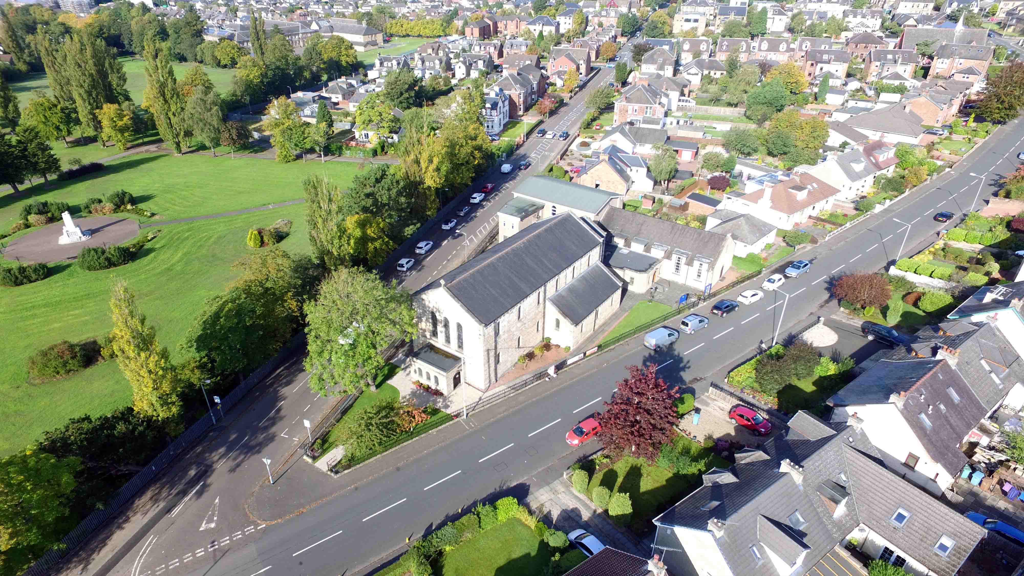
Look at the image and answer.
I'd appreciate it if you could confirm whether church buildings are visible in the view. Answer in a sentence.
Yes, the picture does show a church building.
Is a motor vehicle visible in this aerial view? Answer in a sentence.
Yes, I can see a motor vehicle in this picture.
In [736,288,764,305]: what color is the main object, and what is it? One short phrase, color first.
white car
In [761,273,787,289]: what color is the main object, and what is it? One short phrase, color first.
white car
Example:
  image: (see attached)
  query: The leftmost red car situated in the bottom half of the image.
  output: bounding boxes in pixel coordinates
[565,414,600,444]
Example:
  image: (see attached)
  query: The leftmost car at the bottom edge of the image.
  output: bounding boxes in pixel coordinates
[563,518,610,554]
